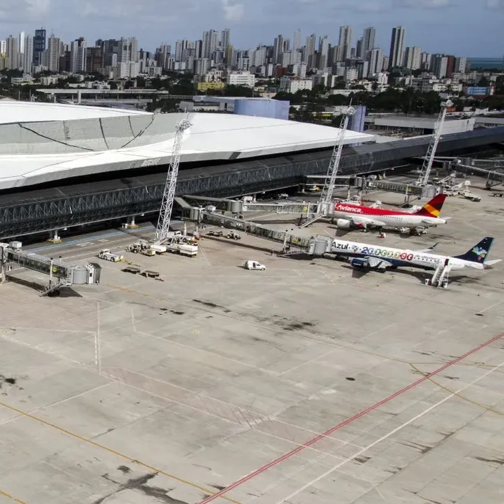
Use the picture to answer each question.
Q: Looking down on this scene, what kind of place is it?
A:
airport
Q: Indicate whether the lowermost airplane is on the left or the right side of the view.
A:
right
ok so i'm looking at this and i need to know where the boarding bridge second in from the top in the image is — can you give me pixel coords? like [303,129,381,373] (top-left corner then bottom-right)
[298,174,442,207]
